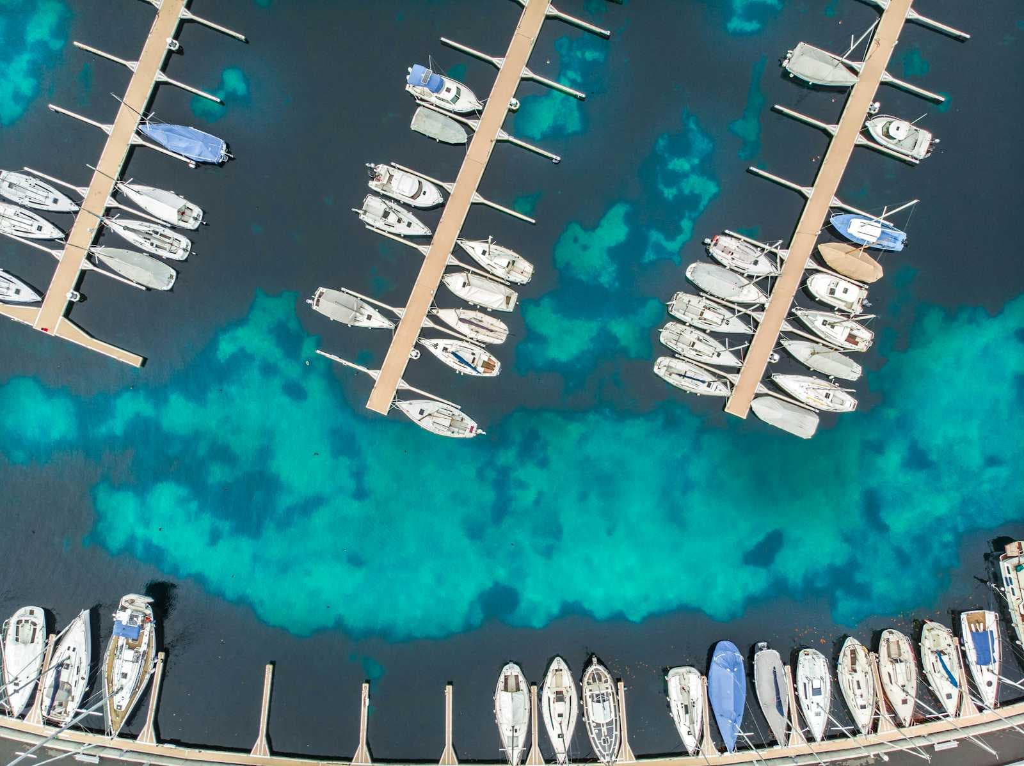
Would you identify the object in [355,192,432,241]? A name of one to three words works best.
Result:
boat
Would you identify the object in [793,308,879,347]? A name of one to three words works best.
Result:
boat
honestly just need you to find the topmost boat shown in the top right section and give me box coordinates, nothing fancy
[783,22,881,86]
